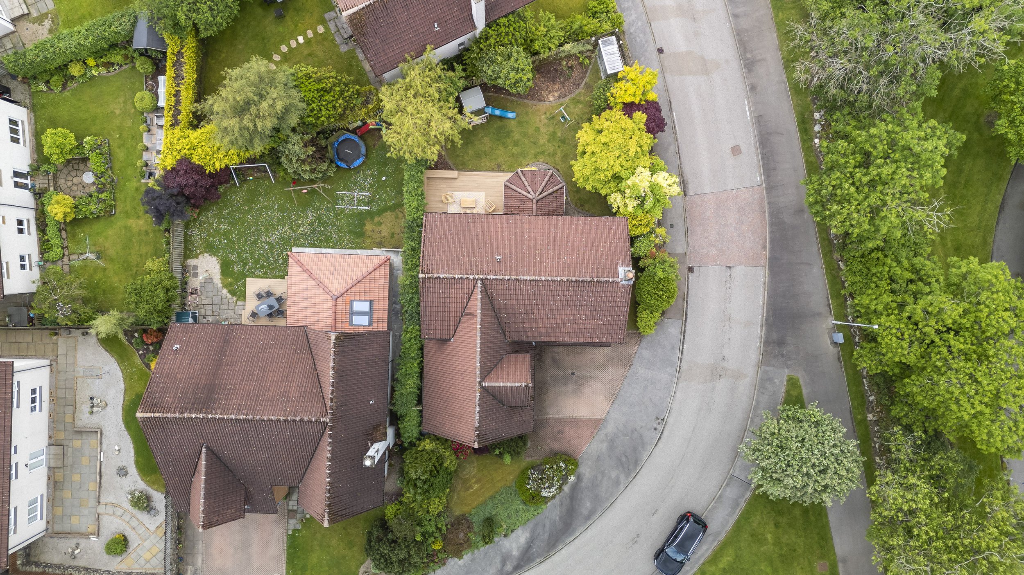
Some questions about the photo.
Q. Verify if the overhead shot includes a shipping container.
No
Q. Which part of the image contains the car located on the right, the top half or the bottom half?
bottom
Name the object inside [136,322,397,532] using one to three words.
house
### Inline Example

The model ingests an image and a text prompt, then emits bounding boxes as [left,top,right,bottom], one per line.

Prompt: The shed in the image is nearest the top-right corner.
[591,39,623,86]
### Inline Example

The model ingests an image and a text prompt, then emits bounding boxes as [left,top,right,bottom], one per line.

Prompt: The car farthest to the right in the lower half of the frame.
[657,510,709,575]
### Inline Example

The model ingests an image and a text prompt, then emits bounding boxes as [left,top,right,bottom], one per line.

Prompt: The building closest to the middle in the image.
[416,168,634,447]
